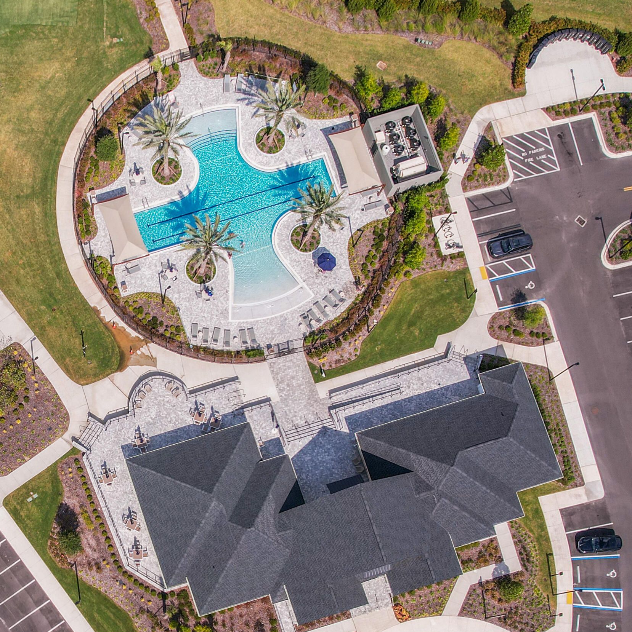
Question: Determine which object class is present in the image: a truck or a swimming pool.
swimming pool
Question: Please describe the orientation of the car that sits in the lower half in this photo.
from side to side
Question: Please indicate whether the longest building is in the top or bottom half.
bottom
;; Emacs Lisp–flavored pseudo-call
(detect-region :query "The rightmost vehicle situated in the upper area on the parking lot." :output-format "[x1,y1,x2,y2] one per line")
[487,231,534,257]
